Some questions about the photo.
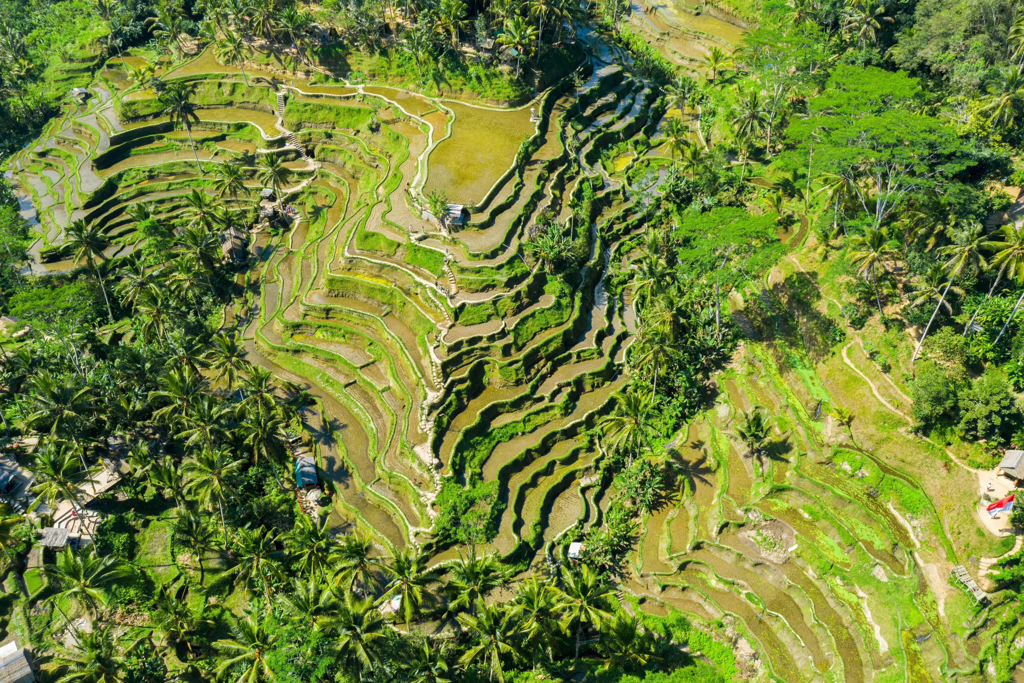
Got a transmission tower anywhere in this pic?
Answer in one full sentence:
No, this view has no transmission tower in it.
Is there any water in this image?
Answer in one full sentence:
Yes, the picture does contain water.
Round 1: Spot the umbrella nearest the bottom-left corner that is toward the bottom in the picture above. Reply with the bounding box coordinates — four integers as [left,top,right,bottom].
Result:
[305,490,320,504]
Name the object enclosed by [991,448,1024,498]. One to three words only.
building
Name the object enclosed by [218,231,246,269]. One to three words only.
shed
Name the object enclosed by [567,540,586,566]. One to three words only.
shed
